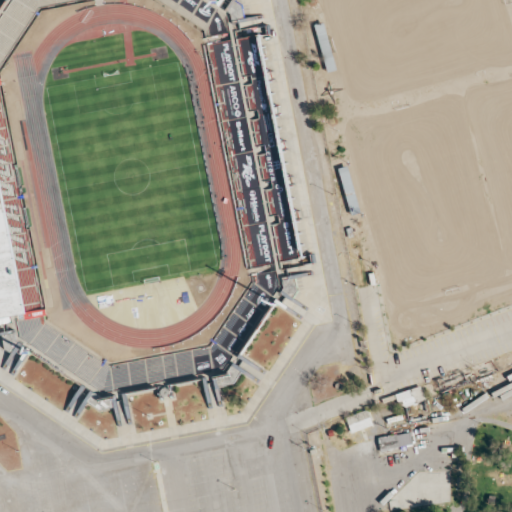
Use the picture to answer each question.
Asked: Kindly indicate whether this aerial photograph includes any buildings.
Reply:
Yes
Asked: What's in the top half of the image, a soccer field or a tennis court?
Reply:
soccer field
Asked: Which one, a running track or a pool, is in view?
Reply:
running track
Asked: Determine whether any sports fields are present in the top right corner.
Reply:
Yes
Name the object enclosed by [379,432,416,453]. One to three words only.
building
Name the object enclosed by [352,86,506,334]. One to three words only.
sports field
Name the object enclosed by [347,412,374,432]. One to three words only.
house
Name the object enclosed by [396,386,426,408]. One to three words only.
building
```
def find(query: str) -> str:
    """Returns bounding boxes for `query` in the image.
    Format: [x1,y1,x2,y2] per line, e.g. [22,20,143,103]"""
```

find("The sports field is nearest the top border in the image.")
[330,0,512,112]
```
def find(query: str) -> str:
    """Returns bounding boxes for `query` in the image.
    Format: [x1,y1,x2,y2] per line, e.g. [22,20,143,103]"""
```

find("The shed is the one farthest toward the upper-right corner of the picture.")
[314,24,336,72]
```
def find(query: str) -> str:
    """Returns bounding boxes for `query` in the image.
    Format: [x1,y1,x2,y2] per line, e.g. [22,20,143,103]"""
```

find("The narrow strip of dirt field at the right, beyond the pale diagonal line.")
[470,72,512,268]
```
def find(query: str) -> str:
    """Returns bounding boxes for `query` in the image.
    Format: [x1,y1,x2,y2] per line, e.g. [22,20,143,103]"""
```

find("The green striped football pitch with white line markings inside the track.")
[45,26,222,294]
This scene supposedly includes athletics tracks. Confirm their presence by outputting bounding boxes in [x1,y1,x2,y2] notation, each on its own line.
[16,5,242,348]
